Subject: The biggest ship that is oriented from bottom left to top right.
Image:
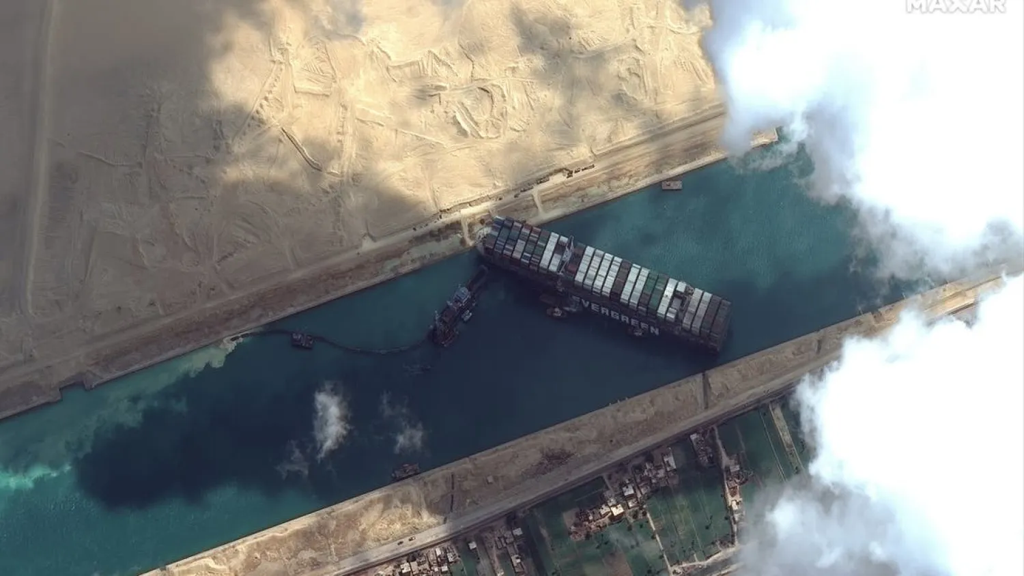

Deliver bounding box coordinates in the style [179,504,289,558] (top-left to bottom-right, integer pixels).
[433,274,482,346]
